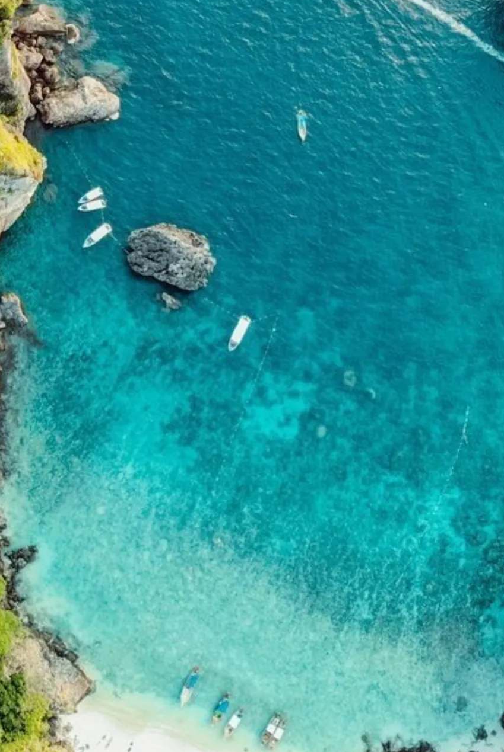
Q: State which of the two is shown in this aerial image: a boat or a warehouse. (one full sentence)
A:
I can see a boat in this picture.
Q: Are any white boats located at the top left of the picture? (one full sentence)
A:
Yes, at the top left of the picture there is a white boat.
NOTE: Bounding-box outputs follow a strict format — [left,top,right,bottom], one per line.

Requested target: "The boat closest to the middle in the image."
[229,314,251,350]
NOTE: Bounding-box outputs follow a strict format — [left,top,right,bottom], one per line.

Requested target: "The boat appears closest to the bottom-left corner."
[181,662,201,706]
